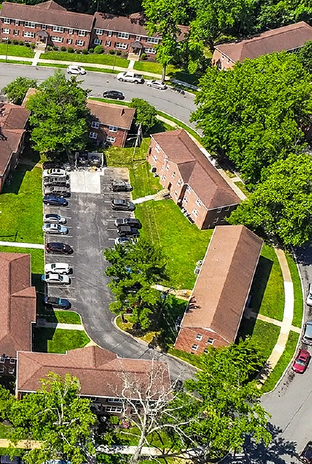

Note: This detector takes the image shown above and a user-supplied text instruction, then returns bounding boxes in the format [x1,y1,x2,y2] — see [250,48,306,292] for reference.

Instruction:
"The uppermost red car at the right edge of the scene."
[292,350,310,374]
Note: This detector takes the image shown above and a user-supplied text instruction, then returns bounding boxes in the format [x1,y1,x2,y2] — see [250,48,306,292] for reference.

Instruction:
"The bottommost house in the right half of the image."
[176,226,264,357]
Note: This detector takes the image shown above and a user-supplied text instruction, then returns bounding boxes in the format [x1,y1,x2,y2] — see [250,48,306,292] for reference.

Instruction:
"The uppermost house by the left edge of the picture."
[0,1,96,50]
